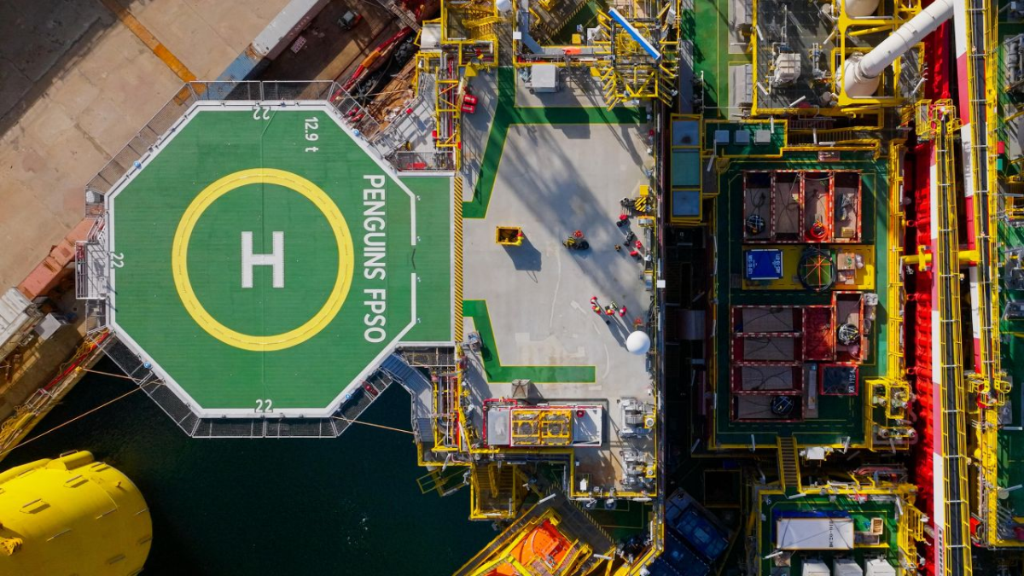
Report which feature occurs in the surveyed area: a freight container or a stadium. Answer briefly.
freight container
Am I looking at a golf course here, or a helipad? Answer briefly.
helipad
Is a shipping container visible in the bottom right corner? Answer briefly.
Yes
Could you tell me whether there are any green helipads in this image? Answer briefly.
Yes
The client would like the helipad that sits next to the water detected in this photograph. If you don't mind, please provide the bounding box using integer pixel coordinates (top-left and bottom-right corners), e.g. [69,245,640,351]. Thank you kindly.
[85,81,455,437]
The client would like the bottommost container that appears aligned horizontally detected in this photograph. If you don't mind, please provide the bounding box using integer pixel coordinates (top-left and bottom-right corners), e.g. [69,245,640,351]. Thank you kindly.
[768,511,855,551]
